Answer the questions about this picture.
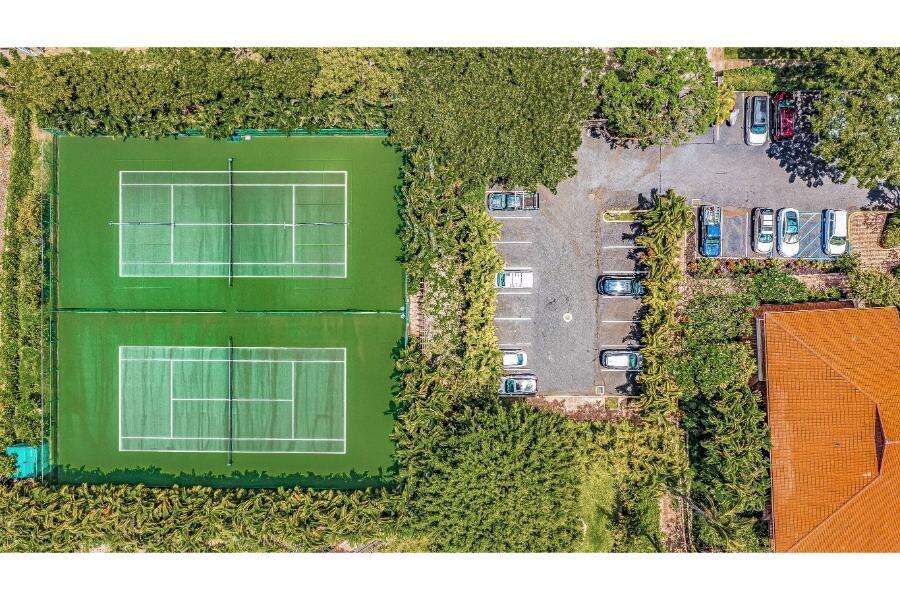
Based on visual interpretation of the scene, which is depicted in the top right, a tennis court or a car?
car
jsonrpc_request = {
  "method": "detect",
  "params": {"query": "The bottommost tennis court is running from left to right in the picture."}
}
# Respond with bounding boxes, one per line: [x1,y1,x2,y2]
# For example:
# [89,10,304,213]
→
[57,311,405,482]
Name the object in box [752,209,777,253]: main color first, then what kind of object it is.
white car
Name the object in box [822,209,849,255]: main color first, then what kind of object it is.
white vehicle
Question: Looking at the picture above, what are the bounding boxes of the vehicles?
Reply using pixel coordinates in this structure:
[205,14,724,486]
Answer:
[489,350,526,368]
[597,275,645,297]
[822,209,849,255]
[730,109,743,126]
[698,206,722,257]
[744,97,770,146]
[752,209,777,253]
[489,269,534,290]
[599,351,644,372]
[499,374,540,395]
[487,190,540,211]
[776,210,802,256]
